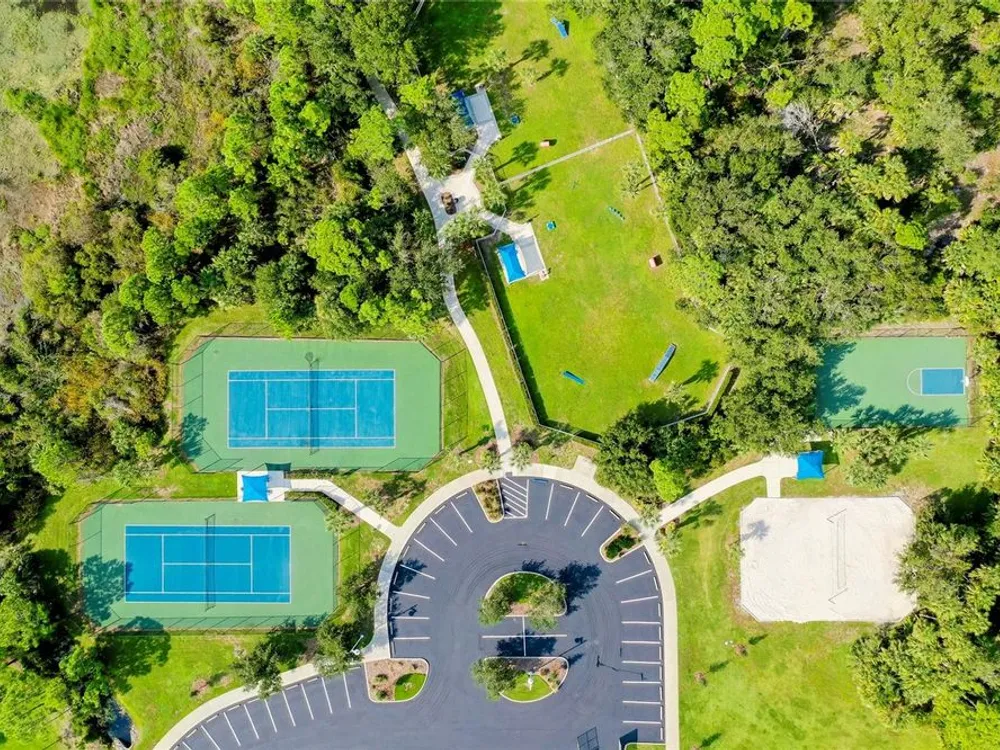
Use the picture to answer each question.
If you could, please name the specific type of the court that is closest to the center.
tennis court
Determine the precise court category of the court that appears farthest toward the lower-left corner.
tennis court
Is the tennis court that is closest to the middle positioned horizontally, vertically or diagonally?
horizontally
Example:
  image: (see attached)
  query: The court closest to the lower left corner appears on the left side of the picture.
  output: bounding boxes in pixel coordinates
[81,501,335,629]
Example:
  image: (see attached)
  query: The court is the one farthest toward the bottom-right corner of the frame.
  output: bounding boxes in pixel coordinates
[739,495,915,624]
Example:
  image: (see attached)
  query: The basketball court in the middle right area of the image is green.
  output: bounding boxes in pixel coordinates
[806,337,968,427]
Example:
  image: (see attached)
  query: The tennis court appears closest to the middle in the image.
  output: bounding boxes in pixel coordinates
[182,338,441,471]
